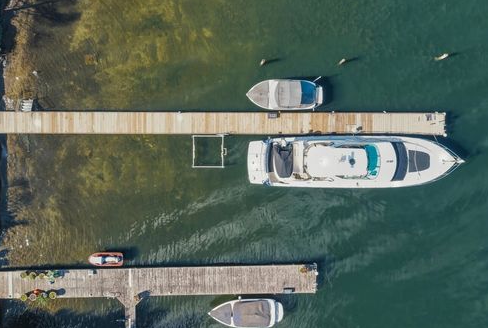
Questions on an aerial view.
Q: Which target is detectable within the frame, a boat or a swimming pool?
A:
boat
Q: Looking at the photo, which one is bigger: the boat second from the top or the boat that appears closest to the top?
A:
the boat second from the top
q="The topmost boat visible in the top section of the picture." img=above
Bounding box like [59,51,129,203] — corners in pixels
[245,75,322,111]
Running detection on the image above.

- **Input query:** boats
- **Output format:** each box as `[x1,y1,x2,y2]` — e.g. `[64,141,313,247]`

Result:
[245,75,322,111]
[88,252,124,266]
[207,298,284,328]
[247,135,469,188]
